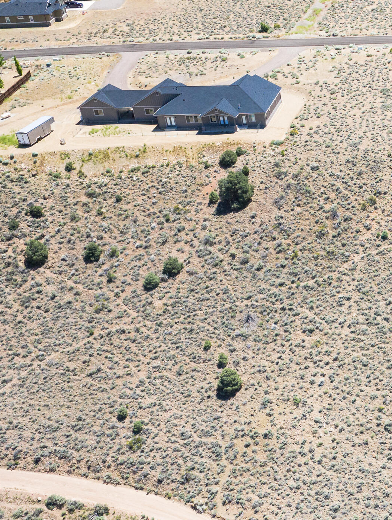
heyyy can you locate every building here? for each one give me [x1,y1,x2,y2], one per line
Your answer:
[0,0,78,28]
[76,74,282,132]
